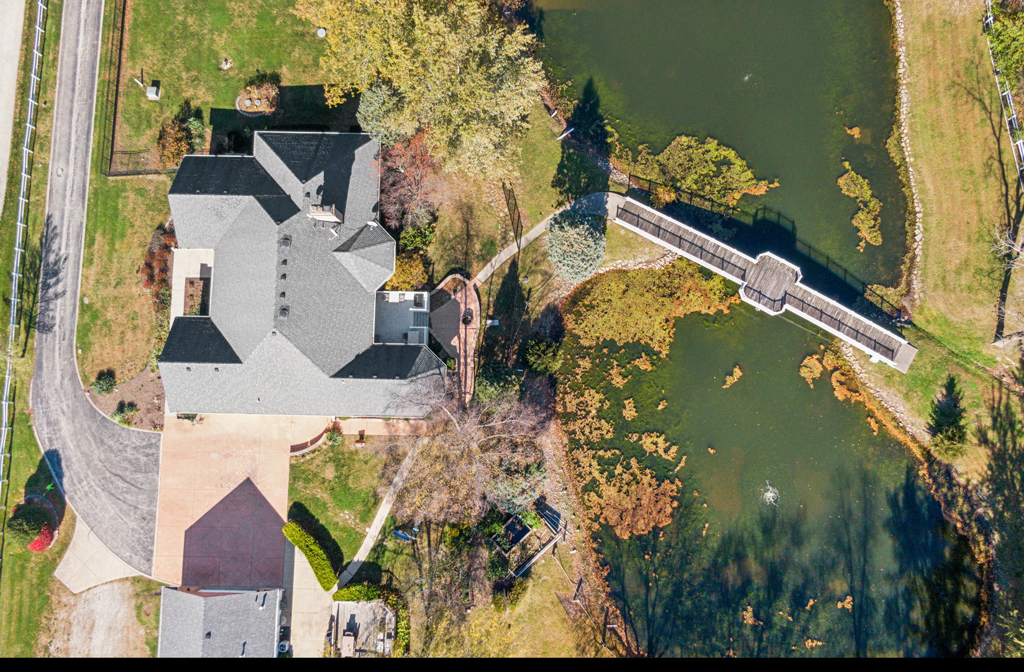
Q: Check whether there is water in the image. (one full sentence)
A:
Yes, the picture does contain water.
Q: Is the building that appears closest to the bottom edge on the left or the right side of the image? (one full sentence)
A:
The building that appears closest to the bottom edge sits on the left side.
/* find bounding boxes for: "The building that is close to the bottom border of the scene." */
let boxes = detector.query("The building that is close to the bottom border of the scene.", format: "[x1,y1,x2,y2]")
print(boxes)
[157,581,288,672]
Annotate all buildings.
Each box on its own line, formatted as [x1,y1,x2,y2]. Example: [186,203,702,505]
[157,581,288,672]
[158,131,448,418]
